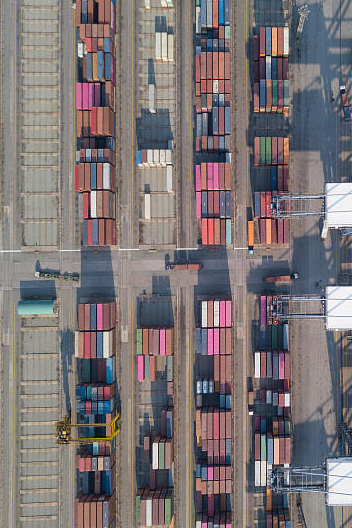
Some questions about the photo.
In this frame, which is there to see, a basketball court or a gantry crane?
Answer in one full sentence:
Looking from above, you can make out a gantry crane.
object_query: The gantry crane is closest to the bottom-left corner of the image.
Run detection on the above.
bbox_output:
[53,404,123,444]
